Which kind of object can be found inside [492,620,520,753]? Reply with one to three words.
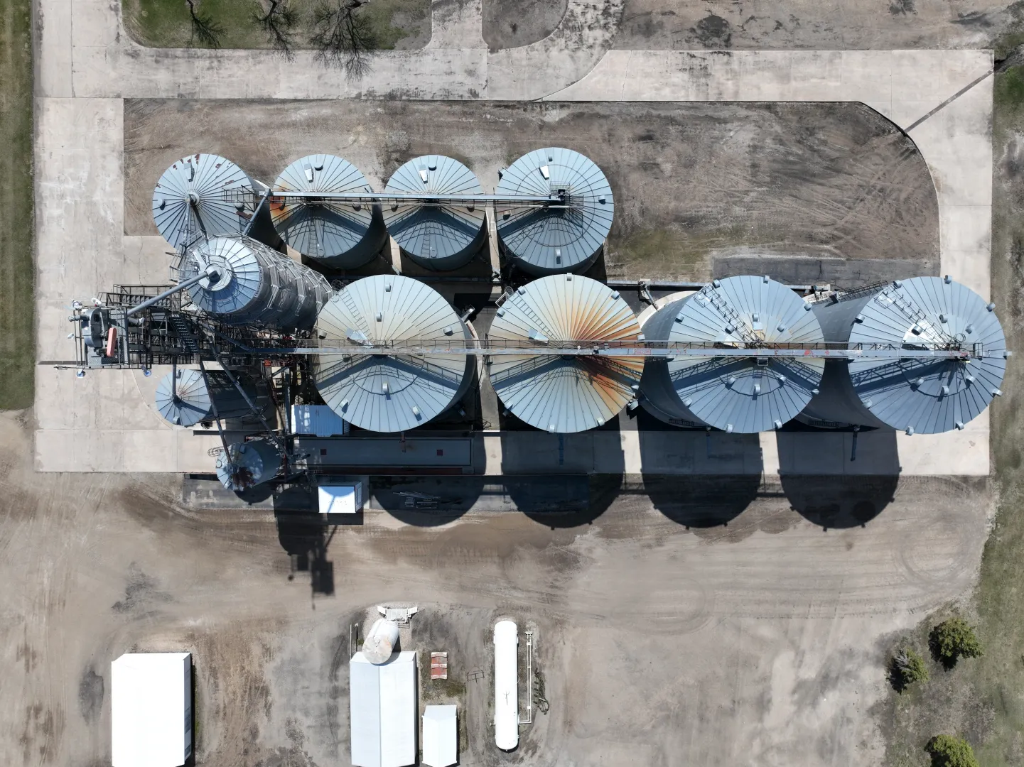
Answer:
storage tank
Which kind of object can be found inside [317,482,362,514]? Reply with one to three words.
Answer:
shed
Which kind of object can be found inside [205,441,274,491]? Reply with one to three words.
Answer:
silo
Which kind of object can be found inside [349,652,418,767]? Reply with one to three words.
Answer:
shed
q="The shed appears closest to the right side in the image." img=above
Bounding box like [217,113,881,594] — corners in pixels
[422,705,459,767]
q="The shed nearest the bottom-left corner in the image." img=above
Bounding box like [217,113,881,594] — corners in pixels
[110,653,193,767]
